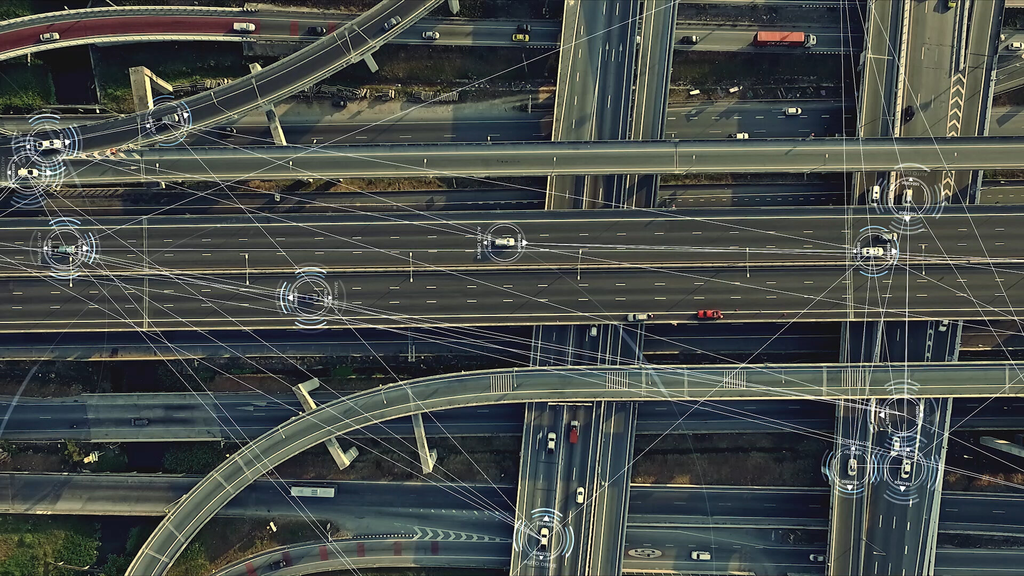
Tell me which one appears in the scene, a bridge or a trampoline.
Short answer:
bridge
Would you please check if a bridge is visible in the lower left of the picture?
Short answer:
Yes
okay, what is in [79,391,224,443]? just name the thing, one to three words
bridge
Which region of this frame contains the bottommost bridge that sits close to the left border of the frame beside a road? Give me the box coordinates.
[0,471,251,520]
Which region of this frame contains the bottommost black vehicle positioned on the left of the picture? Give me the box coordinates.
[268,558,287,570]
